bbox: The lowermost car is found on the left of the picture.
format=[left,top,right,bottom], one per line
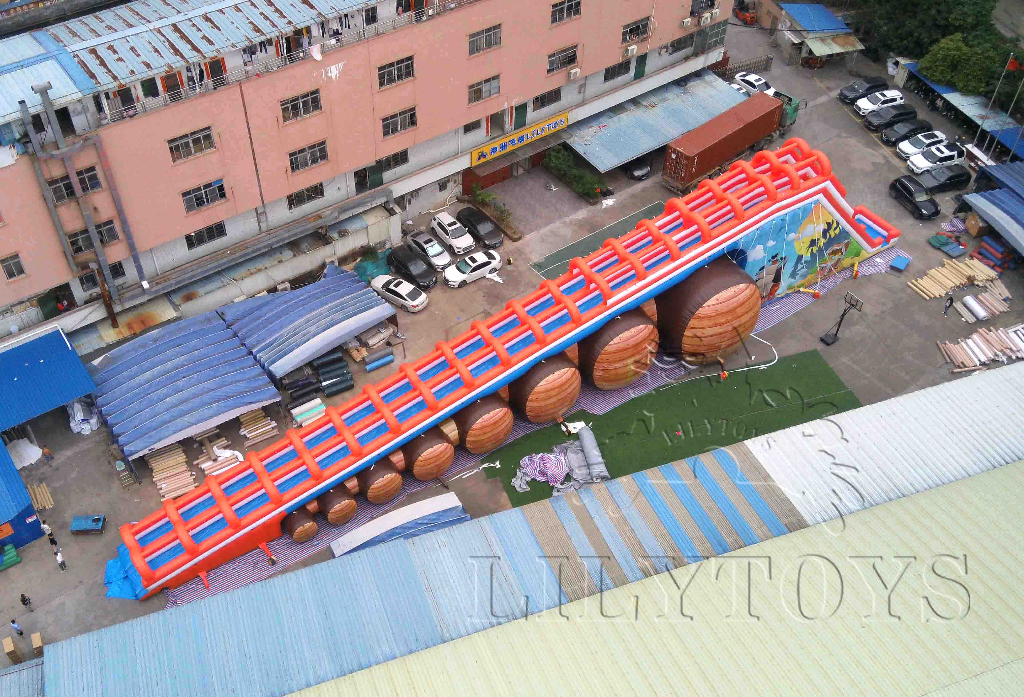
[368,277,433,319]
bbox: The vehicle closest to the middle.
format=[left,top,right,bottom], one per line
[441,249,506,288]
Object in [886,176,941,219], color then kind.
black car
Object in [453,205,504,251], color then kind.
black car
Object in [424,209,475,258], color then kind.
white car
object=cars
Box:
[840,72,890,105]
[914,161,972,194]
[866,99,919,132]
[856,85,909,117]
[736,69,781,96]
[881,117,935,147]
[886,176,941,219]
[453,205,504,251]
[400,227,451,273]
[382,241,437,292]
[618,155,650,181]
[368,277,433,319]
[897,128,951,163]
[424,209,475,258]
[441,249,506,288]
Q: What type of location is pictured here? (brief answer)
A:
industrial area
